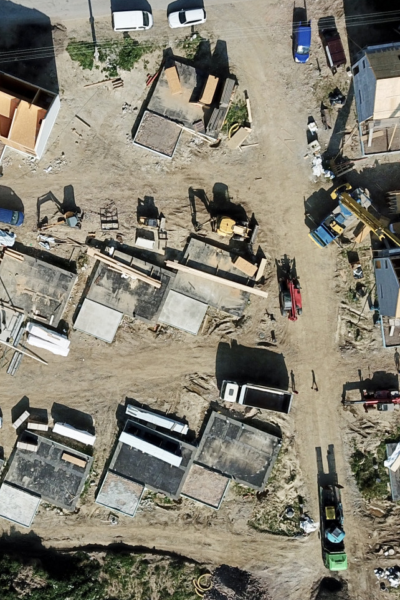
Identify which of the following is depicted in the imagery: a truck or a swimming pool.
truck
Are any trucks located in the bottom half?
Yes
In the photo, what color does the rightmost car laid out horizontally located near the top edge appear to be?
white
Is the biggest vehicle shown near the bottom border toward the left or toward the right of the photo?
right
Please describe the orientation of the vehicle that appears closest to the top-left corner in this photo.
from side to side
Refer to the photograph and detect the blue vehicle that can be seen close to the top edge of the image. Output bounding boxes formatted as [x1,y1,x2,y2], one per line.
[292,16,311,62]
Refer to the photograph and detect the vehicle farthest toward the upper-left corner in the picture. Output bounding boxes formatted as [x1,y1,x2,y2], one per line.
[111,9,153,32]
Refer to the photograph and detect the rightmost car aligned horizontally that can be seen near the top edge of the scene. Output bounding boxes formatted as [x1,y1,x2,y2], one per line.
[166,8,207,29]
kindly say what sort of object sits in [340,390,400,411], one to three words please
work vehicle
